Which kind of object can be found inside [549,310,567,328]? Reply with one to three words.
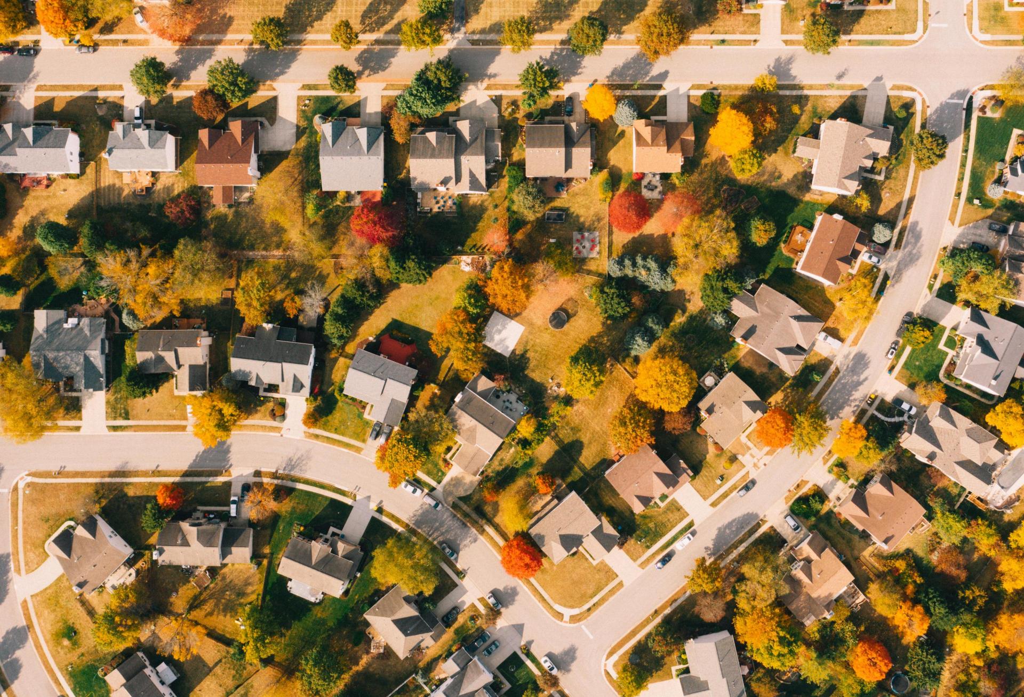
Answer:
trampoline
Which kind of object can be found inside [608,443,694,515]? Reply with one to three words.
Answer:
house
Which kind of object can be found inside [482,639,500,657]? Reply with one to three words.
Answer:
car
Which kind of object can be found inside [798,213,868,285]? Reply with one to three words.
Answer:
house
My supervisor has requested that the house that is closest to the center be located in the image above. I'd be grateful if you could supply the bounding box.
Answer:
[444,372,515,477]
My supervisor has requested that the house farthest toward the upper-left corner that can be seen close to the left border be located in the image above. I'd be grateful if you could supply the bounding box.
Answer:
[0,120,78,174]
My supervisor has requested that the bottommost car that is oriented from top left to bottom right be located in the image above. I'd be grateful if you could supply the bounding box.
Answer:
[540,655,556,674]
